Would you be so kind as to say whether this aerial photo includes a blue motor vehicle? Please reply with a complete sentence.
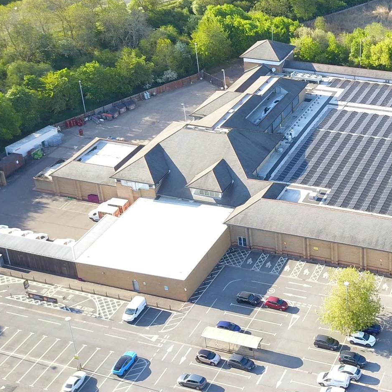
Yes, the picture does show a blue motor vehicle.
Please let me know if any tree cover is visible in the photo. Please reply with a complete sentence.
Yes, there is tree cover in the image.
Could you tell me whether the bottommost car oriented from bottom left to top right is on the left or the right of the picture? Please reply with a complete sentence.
You can find the bottommost car oriented from bottom left to top right on the left side of the picture.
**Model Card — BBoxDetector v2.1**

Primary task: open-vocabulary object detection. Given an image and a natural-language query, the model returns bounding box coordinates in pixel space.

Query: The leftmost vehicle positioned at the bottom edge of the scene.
[60,371,89,392]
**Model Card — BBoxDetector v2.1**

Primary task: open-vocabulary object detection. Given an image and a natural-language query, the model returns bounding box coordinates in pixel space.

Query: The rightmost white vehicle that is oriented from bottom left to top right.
[122,294,148,322]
